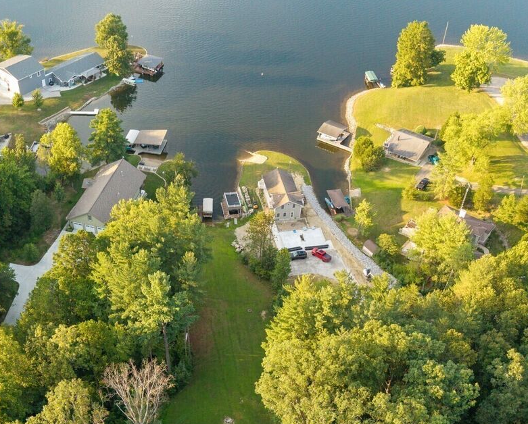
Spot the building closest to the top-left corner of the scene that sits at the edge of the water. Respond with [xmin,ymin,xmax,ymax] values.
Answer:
[0,54,49,96]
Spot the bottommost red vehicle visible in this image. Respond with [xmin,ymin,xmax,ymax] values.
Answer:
[309,246,335,263]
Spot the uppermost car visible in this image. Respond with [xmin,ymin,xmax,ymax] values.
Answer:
[416,175,431,189]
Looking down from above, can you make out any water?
Yes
